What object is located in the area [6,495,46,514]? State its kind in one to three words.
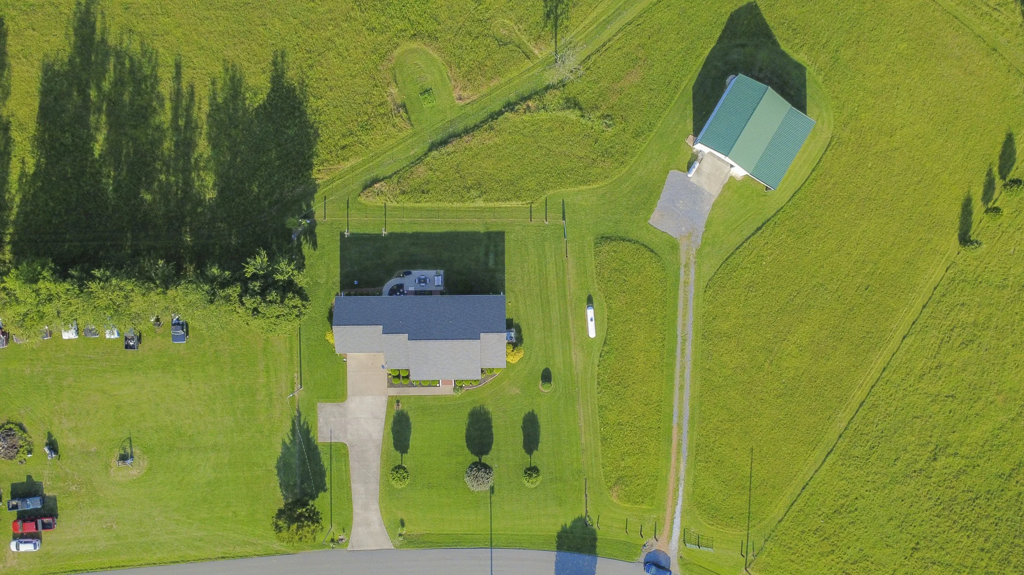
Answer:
vehicle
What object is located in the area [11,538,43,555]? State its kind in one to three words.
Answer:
car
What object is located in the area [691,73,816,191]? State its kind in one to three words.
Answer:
barn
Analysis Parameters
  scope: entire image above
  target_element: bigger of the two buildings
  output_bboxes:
[332,290,506,389]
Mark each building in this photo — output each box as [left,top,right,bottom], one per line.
[691,73,816,191]
[332,290,506,389]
